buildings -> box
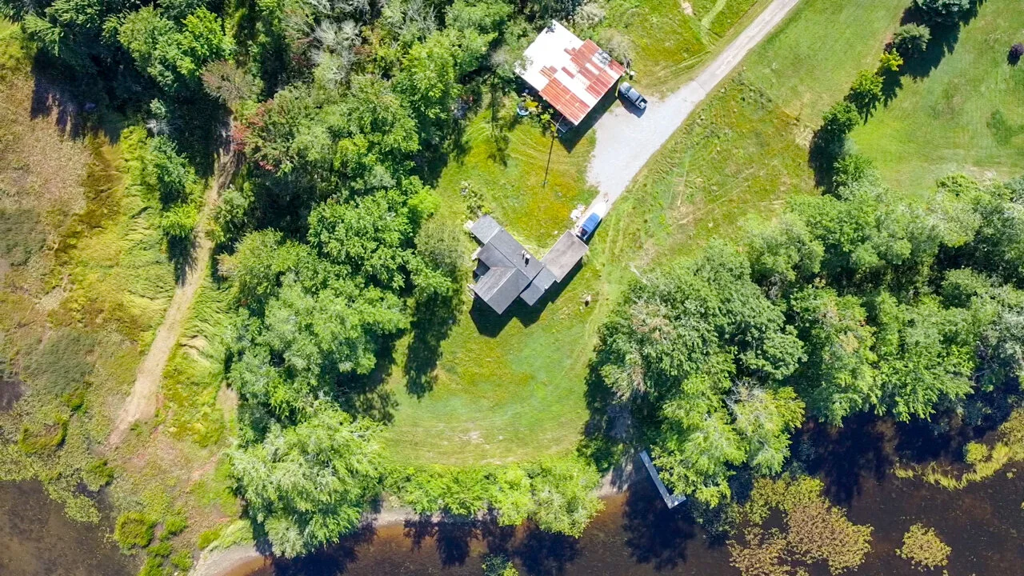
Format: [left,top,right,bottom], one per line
[463,213,589,314]
[516,20,626,128]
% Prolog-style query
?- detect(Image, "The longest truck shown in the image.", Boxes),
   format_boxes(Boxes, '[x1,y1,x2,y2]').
[618,81,649,113]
